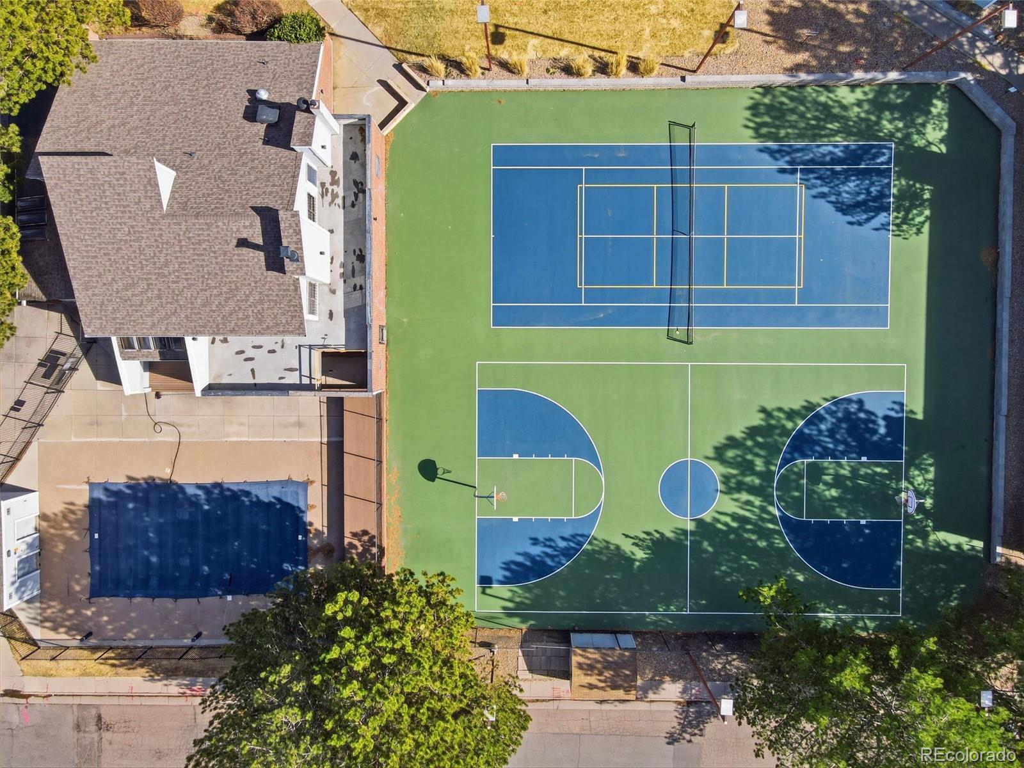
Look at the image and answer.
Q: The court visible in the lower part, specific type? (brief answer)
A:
basketball court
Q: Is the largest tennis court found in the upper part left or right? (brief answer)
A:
right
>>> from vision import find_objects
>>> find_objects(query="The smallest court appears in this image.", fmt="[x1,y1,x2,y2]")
[577,184,804,288]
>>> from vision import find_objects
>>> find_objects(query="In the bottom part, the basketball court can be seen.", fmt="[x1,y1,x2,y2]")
[476,362,906,616]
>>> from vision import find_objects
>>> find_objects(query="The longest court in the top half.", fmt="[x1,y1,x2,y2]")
[491,143,893,329]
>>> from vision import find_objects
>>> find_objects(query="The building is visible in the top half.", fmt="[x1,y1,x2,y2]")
[26,39,386,400]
